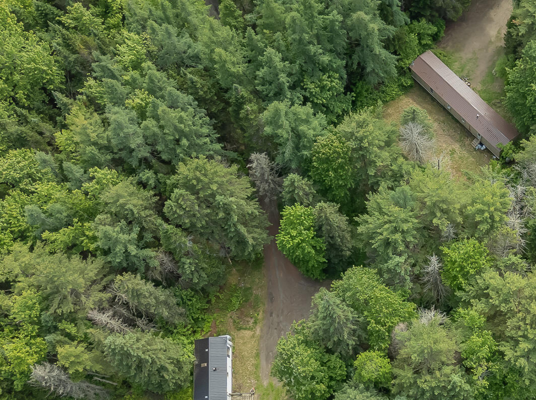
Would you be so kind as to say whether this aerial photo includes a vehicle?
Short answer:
No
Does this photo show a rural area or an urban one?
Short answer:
rural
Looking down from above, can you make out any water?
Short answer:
No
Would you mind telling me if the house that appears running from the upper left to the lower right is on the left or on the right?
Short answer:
right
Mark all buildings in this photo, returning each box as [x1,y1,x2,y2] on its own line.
[193,337,233,400]
[409,50,521,158]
